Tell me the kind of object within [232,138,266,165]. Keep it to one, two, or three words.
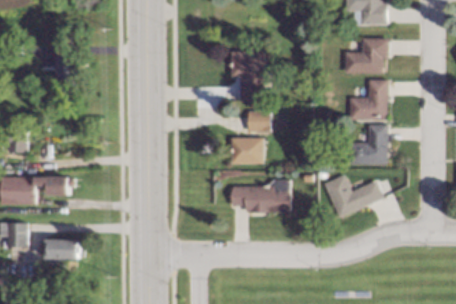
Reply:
house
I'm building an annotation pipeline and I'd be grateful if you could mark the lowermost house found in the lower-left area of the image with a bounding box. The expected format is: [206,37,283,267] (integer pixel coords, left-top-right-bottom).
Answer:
[42,239,87,260]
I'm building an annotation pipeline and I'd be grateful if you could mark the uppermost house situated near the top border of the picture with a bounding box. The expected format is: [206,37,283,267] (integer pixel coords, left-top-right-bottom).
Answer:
[346,0,389,26]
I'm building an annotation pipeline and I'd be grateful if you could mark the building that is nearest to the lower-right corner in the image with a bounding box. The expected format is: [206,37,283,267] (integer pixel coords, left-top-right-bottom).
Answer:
[324,174,384,218]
